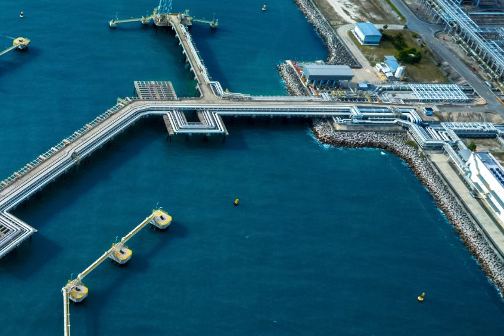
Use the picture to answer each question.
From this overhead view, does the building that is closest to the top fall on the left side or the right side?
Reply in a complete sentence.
The building that is closest to the top sits on the right side.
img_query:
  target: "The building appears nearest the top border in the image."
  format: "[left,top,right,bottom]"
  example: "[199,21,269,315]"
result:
[350,20,384,46]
